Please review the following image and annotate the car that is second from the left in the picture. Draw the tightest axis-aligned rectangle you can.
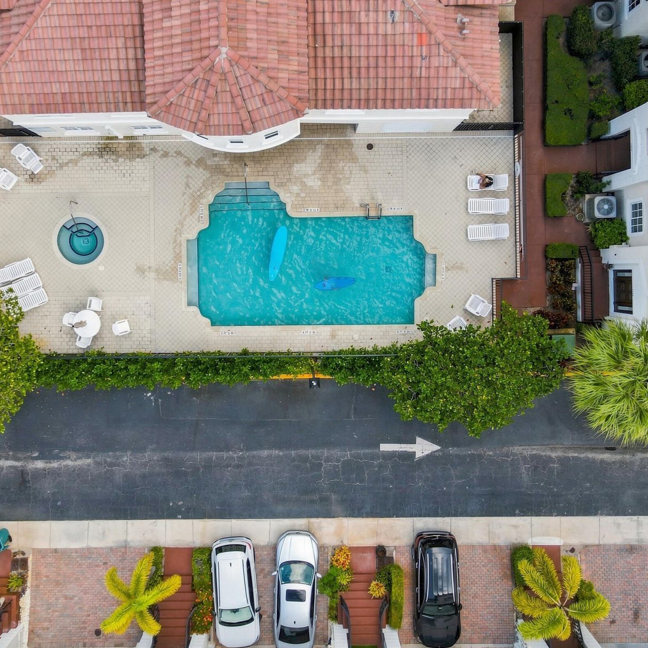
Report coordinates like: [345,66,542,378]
[270,531,323,648]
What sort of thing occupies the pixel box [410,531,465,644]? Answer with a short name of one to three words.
car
